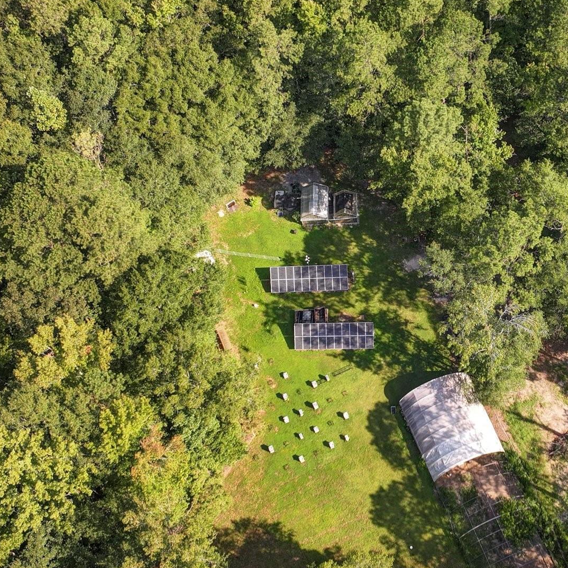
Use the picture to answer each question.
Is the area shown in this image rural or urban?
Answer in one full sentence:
The land in this view is best described as rural.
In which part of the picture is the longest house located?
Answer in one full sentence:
The longest house is in the bottom right part of the image.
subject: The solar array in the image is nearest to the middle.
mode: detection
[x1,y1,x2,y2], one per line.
[271,265,349,293]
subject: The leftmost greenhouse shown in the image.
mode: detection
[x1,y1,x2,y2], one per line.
[300,183,330,226]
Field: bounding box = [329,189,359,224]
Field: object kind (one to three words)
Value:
greenhouse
